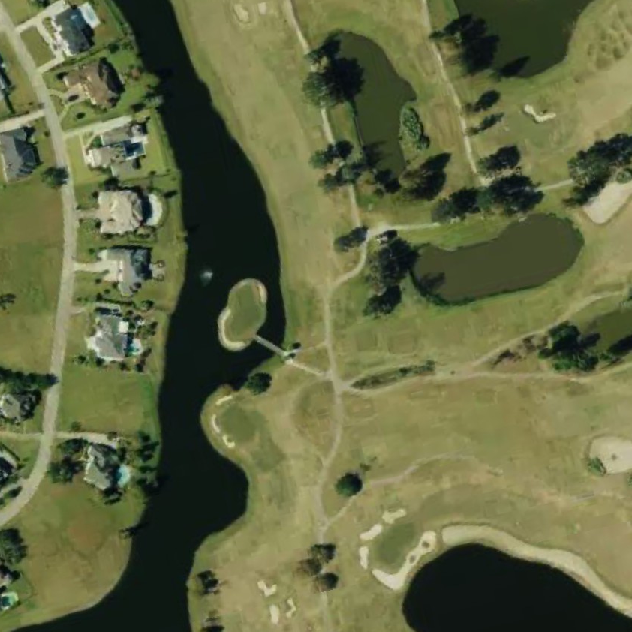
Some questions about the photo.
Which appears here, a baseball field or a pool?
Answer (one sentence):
Looking from above, you can make out a pool.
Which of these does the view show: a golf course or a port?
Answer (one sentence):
The area seen from above is a golf course.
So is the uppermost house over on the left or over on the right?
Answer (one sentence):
You can find the uppermost house on the left side of the picture.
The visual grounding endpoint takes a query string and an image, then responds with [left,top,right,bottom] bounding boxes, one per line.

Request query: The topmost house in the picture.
[50,9,91,56]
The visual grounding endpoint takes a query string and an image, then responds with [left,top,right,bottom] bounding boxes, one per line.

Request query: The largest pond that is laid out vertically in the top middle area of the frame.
[337,32,416,179]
